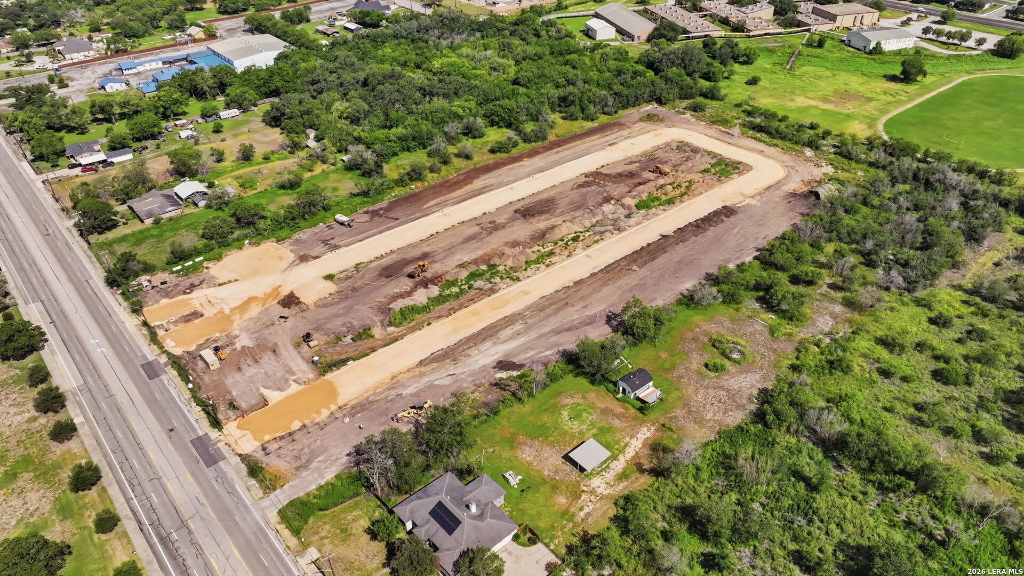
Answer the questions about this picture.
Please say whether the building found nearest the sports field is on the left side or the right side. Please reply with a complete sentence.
The building found nearest the sports field appears in the right half of the scene.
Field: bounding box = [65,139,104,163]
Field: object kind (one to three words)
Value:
house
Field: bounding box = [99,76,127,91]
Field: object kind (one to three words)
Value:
house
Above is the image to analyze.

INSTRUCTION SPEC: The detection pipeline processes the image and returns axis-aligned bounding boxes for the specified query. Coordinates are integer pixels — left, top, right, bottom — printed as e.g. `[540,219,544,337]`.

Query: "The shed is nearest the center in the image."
[618,368,653,399]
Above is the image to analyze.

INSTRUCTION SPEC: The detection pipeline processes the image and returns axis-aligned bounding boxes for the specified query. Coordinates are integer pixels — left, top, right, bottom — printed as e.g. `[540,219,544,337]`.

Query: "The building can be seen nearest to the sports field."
[842,28,921,52]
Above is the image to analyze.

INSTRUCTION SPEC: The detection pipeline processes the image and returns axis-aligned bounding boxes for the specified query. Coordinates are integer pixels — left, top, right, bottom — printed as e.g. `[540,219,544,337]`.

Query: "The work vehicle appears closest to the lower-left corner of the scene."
[210,343,228,361]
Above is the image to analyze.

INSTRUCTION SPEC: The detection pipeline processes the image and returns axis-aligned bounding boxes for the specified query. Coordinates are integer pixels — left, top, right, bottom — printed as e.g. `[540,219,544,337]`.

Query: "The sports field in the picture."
[887,77,1024,166]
